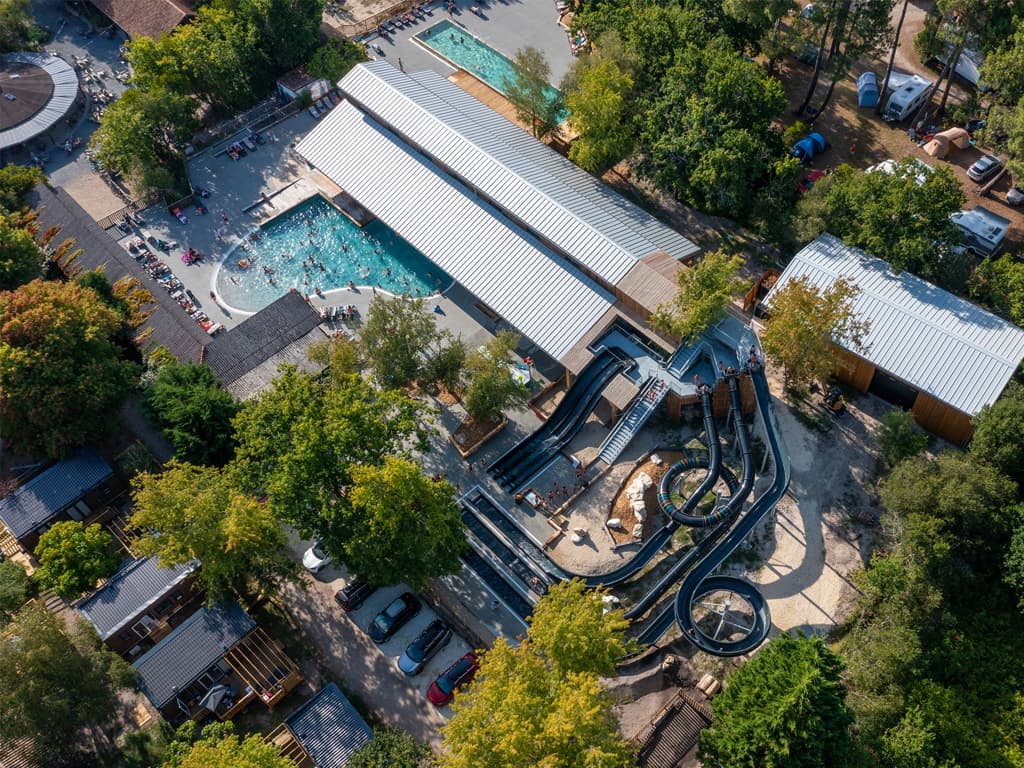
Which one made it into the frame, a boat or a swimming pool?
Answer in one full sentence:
The one in the frame is a swimming pool.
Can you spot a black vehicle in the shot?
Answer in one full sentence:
Yes, this view includes a black vehicle.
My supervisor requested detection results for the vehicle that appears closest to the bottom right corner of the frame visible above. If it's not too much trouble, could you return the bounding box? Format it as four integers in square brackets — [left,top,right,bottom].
[821,387,866,412]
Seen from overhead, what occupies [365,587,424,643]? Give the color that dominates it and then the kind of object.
black car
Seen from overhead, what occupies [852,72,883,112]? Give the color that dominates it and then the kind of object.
blue tent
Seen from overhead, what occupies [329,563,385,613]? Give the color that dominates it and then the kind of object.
black car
